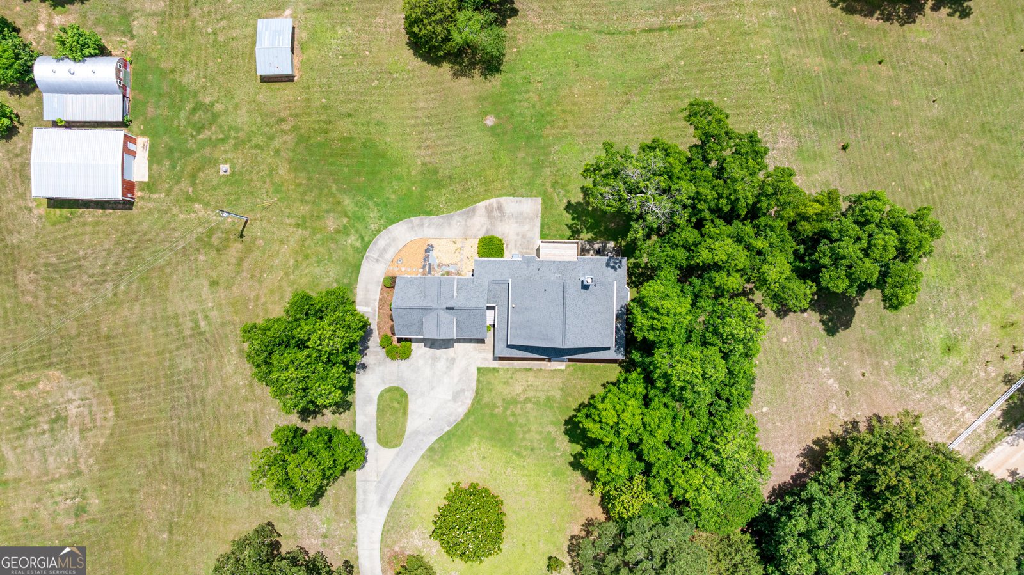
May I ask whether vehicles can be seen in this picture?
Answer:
No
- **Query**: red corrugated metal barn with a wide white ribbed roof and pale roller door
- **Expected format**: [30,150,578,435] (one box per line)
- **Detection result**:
[29,127,136,201]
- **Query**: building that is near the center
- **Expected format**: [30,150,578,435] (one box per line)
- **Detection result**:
[392,256,630,361]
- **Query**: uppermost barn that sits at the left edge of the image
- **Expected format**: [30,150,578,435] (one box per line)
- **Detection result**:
[34,55,132,123]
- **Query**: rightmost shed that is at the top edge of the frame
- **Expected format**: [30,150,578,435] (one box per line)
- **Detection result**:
[256,19,294,77]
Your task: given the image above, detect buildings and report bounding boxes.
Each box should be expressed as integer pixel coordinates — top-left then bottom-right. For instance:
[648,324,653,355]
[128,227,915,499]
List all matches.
[256,19,294,77]
[34,55,132,123]
[392,256,630,361]
[29,127,136,201]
